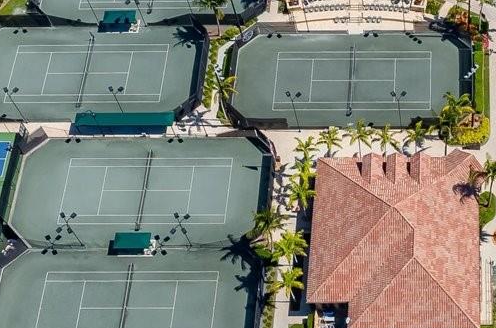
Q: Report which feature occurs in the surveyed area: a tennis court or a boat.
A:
tennis court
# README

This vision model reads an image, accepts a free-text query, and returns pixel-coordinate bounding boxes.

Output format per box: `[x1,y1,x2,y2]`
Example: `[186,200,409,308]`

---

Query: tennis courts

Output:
[0,248,266,328]
[38,0,268,27]
[230,33,473,131]
[0,26,211,123]
[11,138,277,248]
